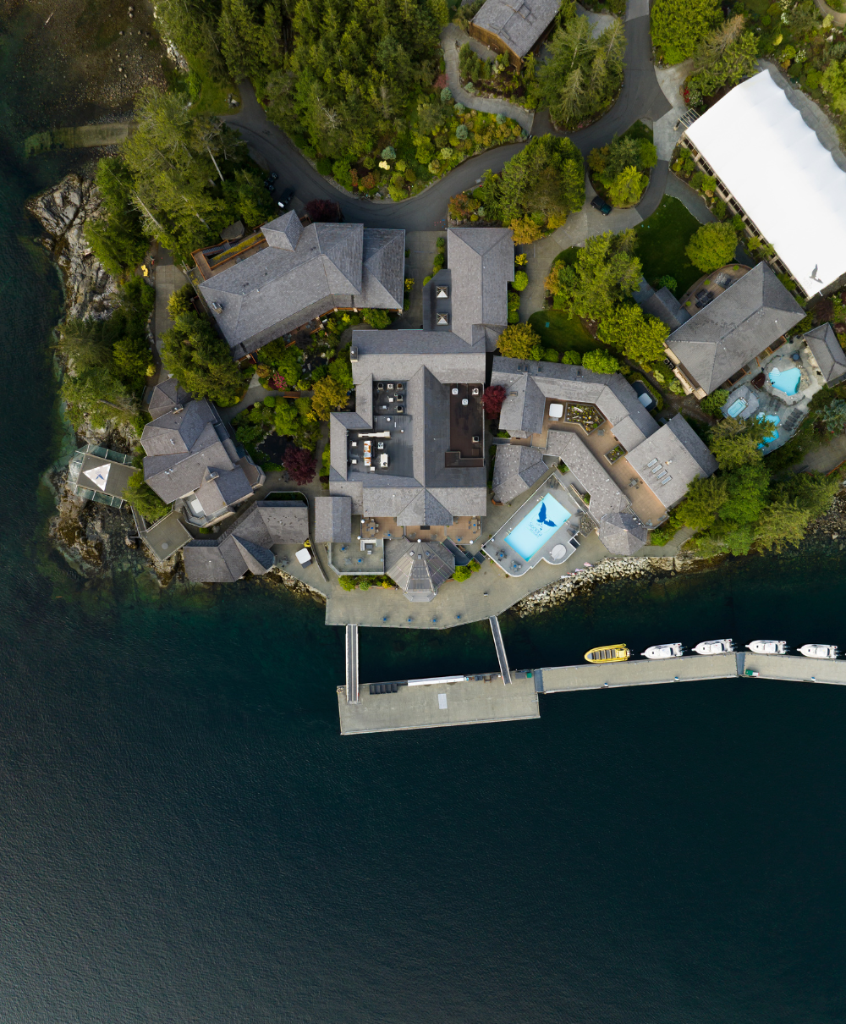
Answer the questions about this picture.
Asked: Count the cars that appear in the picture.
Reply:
2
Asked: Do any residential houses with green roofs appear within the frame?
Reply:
No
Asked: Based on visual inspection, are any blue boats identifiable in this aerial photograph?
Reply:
No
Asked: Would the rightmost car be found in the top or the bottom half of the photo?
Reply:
top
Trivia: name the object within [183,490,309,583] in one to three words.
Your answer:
building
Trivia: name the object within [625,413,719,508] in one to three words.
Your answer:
building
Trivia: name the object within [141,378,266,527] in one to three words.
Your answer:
house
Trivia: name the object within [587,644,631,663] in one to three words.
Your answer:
boat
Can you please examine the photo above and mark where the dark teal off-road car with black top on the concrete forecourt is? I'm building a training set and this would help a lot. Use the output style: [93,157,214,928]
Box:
[590,191,614,215]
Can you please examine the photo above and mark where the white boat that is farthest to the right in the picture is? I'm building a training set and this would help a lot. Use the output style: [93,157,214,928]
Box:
[799,645,844,662]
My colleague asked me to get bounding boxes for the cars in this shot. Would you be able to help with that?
[590,191,614,215]
[275,185,297,207]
